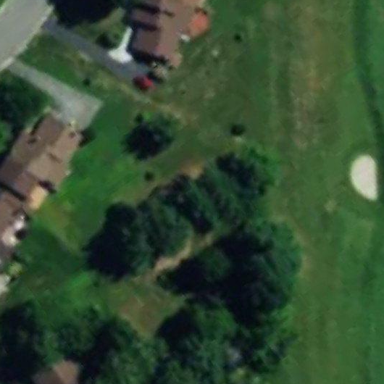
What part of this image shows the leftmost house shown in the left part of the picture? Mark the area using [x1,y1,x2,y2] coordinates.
[0,189,32,263]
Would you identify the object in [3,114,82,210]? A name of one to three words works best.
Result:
house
